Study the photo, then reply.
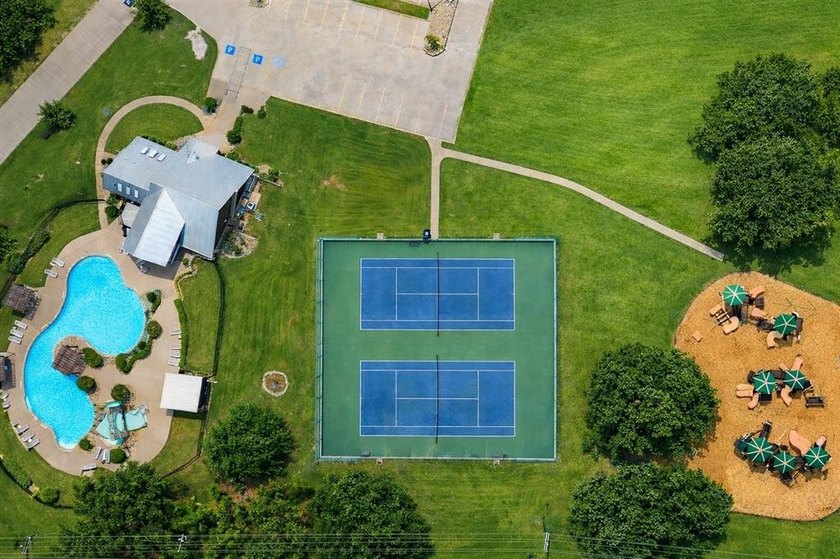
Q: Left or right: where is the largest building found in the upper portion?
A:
left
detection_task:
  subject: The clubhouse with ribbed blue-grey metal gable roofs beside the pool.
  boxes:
[103,135,254,267]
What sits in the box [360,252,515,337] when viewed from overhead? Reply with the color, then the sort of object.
blue tennis court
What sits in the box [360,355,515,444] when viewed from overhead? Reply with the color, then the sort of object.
blue tennis court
